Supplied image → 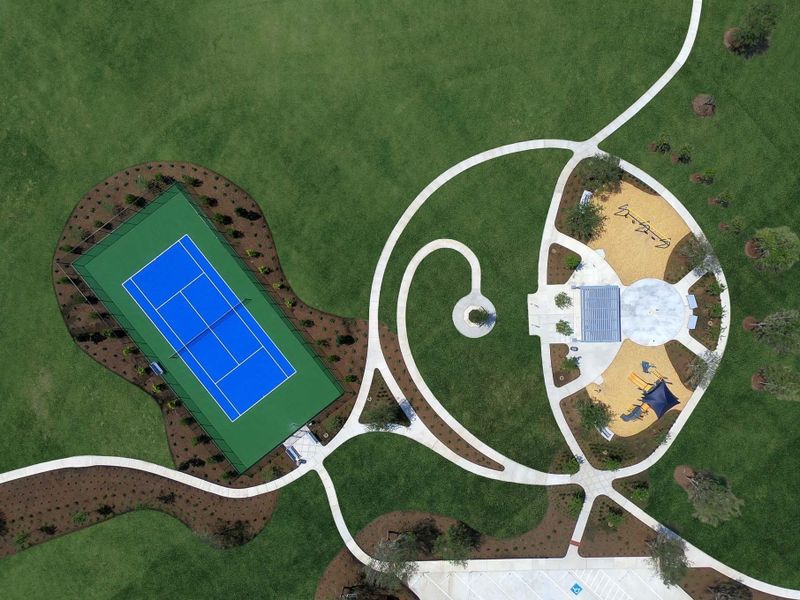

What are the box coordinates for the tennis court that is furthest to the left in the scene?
[73,181,345,475]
